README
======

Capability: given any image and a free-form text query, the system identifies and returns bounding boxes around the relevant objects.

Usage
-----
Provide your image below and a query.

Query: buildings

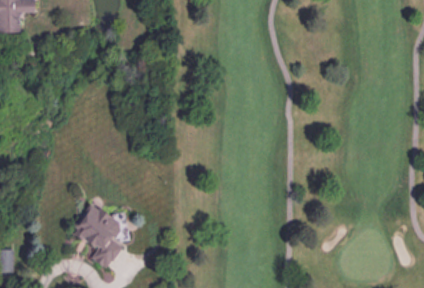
[0,250,14,273]
[79,205,122,268]
[0,0,35,34]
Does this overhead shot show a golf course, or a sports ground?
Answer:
golf course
